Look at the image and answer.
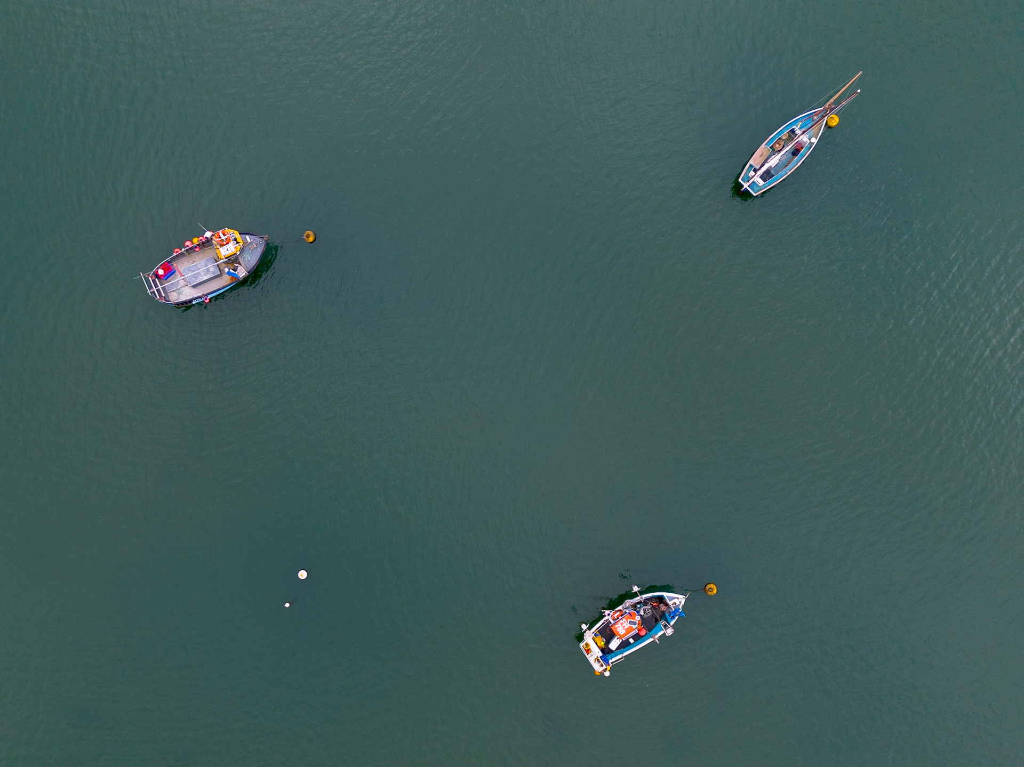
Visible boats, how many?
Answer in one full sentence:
The count of boats comes to 3.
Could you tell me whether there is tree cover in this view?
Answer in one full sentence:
No, there's no tree cover in this view.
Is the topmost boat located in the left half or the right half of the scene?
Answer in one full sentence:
It is on the right.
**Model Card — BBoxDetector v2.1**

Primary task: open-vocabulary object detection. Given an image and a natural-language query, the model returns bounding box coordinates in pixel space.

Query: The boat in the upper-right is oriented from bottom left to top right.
[738,71,863,196]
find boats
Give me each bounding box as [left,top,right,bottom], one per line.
[140,223,270,305]
[579,585,691,671]
[738,71,863,196]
